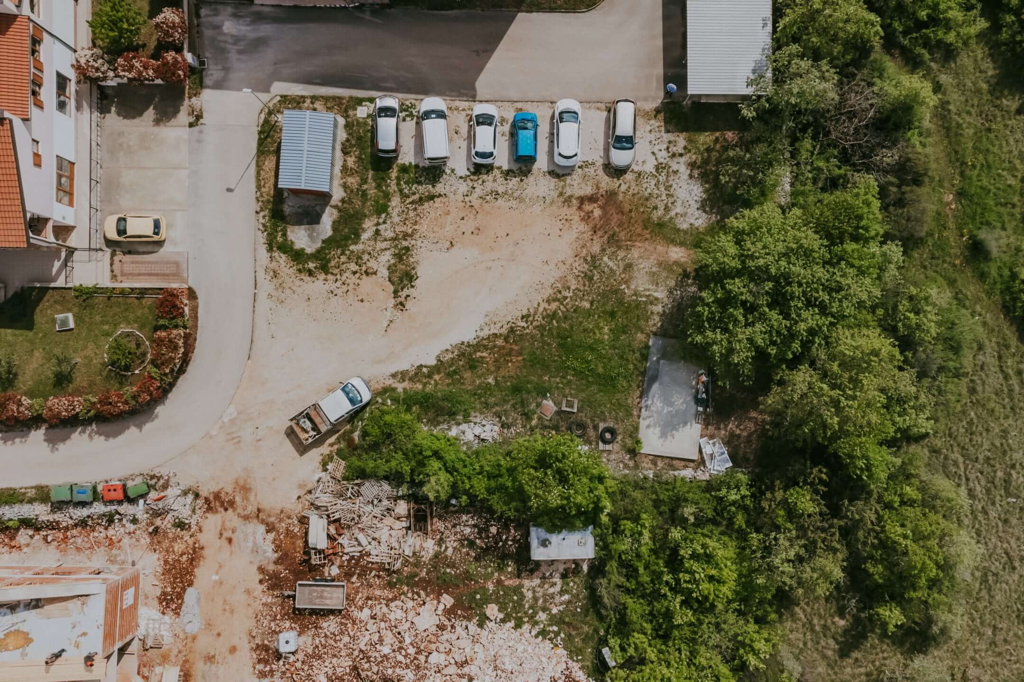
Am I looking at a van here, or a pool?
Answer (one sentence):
Of the two, only a van appears.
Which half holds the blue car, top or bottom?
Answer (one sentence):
You can find the blue car in the top half.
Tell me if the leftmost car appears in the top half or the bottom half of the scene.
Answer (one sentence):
The leftmost car is in the top half of the image.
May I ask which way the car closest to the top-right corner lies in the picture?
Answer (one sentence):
What the image shows is the car closest to the top-right corner lying from top to bottom.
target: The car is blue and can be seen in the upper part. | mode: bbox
[511,111,540,163]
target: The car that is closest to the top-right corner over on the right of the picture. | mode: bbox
[608,98,641,168]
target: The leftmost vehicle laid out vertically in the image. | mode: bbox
[371,96,403,160]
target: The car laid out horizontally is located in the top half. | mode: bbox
[100,212,165,244]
